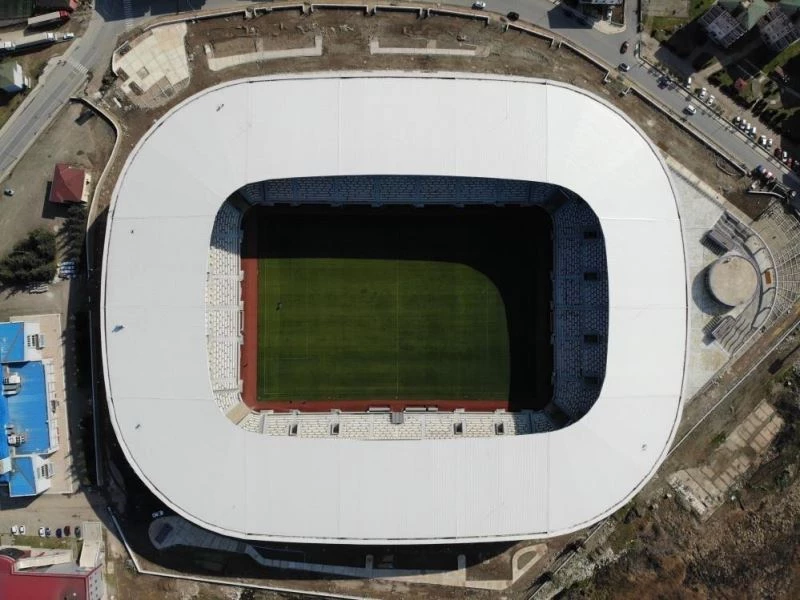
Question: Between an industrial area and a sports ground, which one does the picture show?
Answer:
sports ground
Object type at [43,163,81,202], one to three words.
house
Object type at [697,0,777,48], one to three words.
building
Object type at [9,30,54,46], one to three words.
vehicle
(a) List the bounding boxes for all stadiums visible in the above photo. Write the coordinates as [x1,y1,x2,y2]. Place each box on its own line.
[100,70,688,545]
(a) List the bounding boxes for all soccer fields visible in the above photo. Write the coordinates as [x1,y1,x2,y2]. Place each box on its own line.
[241,205,552,412]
